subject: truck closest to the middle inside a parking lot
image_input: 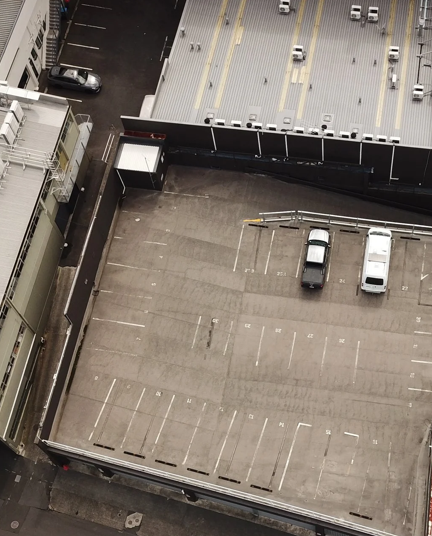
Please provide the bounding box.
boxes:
[301,229,332,291]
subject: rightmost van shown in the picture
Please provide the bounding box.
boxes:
[362,228,395,295]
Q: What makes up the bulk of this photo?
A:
paved ground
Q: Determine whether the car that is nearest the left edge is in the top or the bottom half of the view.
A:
top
